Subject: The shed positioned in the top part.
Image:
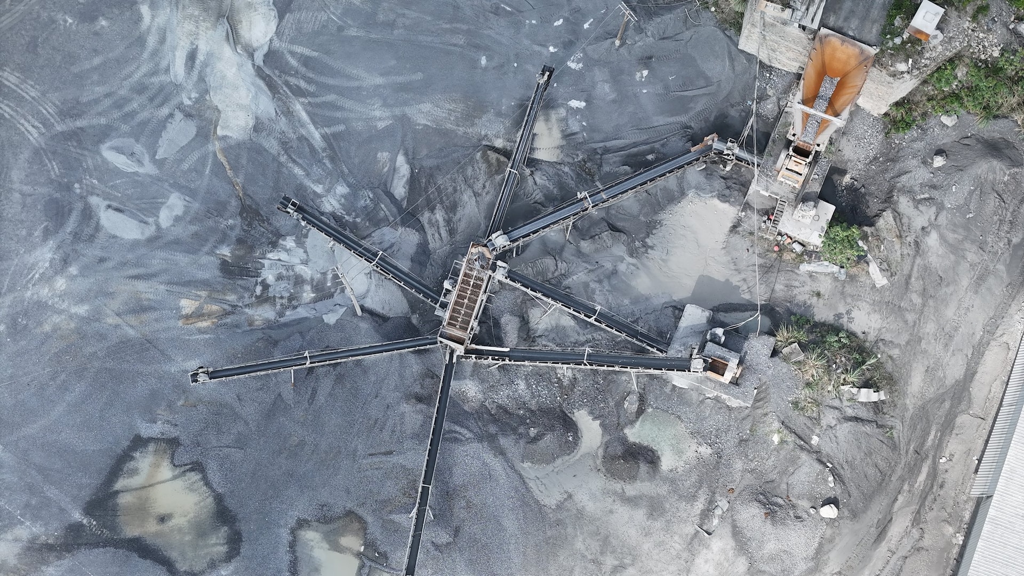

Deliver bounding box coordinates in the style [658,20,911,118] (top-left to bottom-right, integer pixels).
[782,0,827,32]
